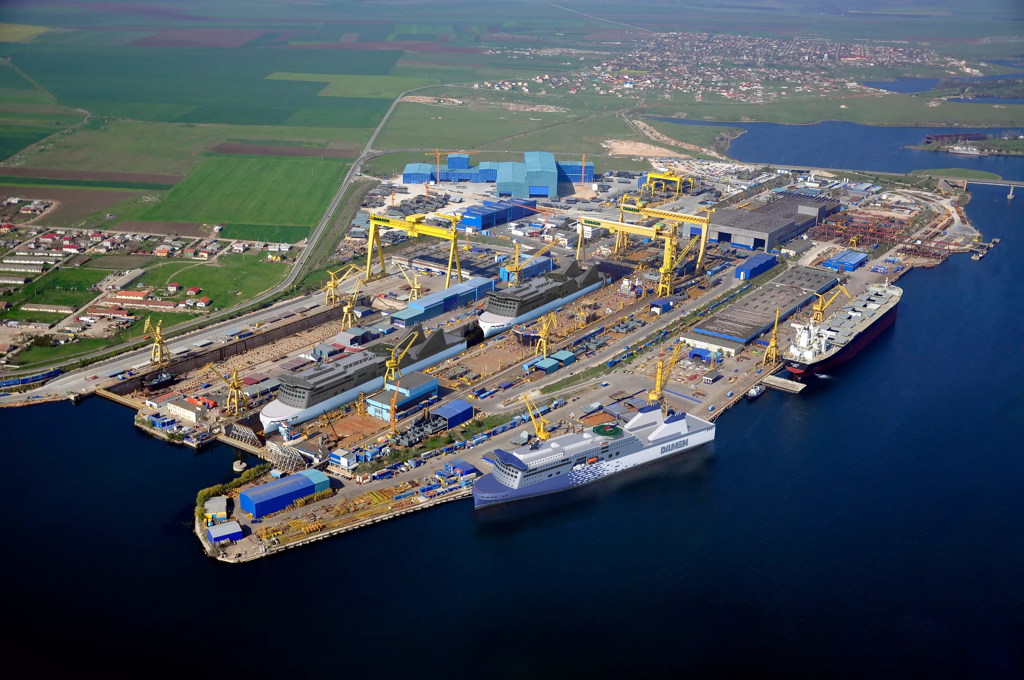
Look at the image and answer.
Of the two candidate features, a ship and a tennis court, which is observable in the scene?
ship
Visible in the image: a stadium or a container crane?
container crane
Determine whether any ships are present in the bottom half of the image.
Yes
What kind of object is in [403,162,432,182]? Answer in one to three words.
building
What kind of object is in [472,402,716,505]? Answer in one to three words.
ship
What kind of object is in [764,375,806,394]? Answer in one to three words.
pier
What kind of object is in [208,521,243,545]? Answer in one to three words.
shed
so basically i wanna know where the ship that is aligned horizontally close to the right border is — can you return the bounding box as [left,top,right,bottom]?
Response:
[945,144,988,156]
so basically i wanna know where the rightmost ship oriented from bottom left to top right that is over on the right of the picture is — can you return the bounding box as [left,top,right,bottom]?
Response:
[786,274,904,378]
